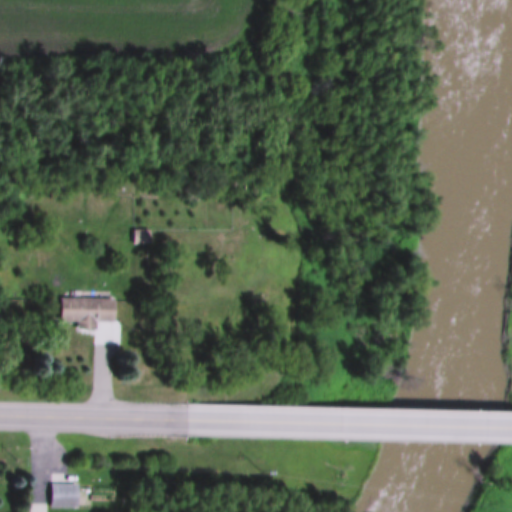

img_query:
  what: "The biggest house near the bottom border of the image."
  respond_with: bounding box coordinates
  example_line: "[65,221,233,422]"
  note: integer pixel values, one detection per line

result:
[50,472,79,510]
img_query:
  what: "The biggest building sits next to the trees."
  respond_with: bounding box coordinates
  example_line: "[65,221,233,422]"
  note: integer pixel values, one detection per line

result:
[62,290,117,330]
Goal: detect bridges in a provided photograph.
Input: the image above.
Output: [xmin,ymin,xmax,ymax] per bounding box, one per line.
[186,404,512,444]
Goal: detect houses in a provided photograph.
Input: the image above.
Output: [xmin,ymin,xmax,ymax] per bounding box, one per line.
[62,290,117,330]
[50,472,79,510]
